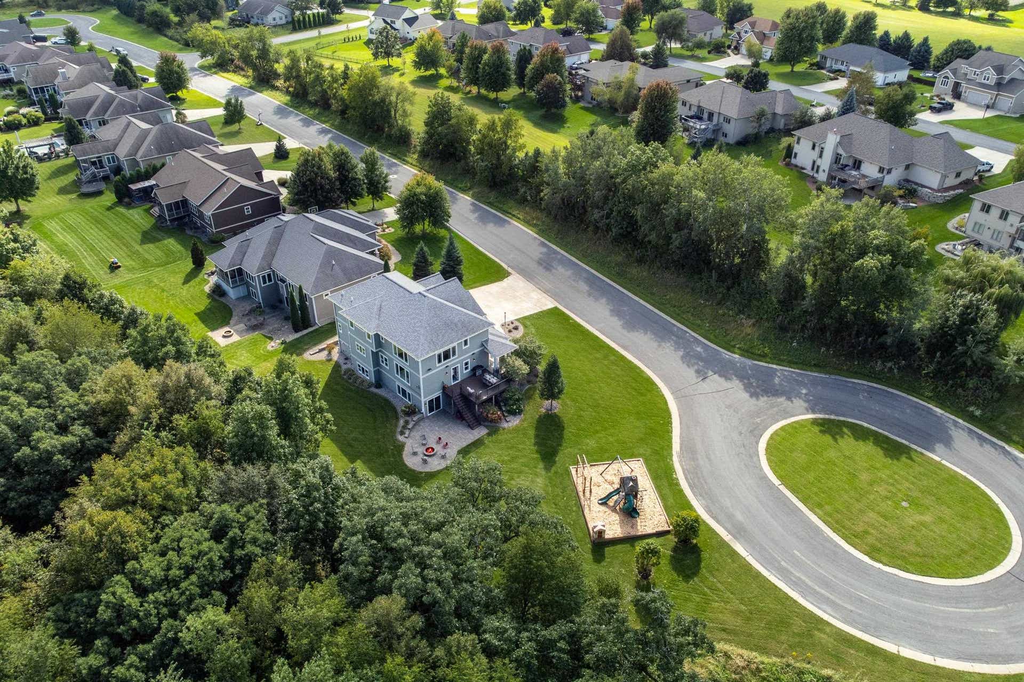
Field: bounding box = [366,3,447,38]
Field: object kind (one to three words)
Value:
house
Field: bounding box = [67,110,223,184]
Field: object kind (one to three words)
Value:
house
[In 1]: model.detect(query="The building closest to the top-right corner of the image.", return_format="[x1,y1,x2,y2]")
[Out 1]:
[934,53,1024,111]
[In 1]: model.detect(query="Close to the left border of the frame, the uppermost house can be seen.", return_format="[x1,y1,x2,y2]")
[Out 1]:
[0,15,36,45]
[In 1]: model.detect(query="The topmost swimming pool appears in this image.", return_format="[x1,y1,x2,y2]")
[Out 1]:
[16,138,83,155]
